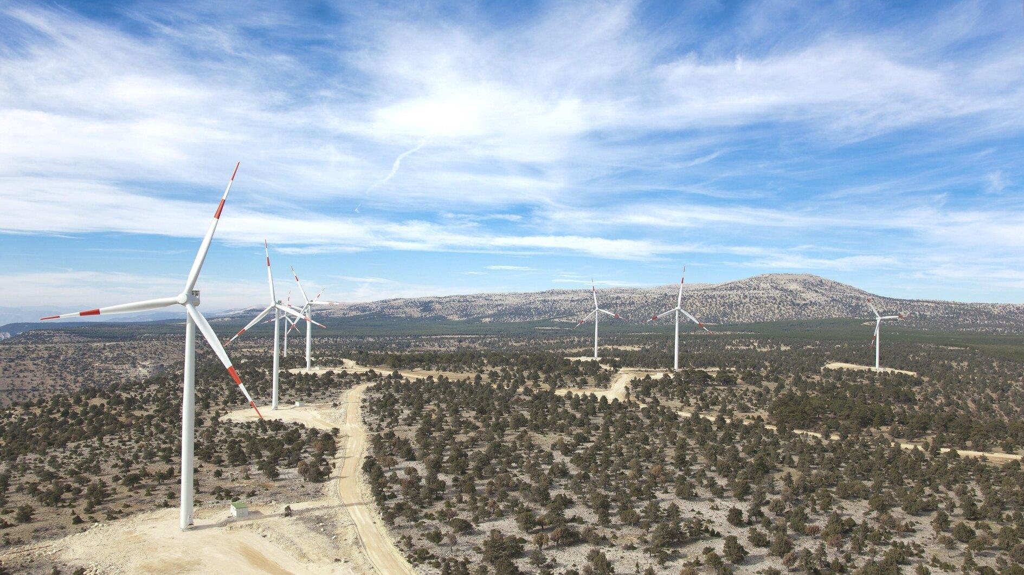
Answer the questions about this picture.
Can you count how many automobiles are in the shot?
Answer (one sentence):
The count of automobiles is 0.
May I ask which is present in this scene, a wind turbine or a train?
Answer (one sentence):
Of the two, only a wind turbine appears.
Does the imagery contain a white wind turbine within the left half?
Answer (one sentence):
Yes, I can see a white wind turbine within the left half.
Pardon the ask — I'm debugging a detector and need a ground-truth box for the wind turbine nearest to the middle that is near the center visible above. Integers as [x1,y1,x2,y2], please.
[576,281,625,357]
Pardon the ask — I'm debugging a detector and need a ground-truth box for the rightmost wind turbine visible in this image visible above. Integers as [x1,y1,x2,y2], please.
[864,294,903,366]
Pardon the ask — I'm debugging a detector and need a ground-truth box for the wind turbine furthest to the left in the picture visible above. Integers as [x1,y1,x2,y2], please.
[41,162,261,532]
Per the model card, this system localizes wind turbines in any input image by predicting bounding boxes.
[576,281,625,357]
[283,289,323,356]
[285,266,343,371]
[644,269,709,371]
[864,294,903,366]
[41,162,261,532]
[226,239,324,409]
